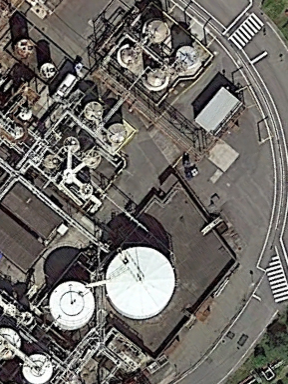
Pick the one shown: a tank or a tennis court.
tank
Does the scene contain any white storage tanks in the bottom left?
Yes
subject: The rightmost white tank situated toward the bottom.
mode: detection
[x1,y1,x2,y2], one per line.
[106,247,176,322]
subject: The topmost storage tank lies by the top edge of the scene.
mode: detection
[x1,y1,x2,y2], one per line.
[142,16,171,47]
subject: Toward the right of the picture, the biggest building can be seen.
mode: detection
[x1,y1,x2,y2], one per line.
[195,87,241,134]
